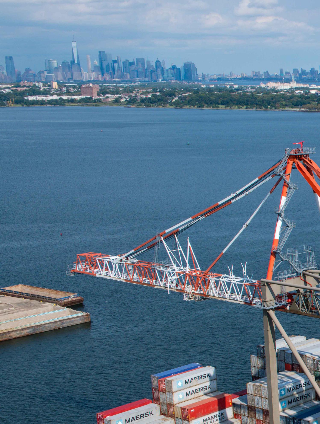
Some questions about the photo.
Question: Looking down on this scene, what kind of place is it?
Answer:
port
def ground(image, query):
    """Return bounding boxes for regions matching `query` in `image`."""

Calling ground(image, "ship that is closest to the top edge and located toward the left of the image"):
[0,285,85,307]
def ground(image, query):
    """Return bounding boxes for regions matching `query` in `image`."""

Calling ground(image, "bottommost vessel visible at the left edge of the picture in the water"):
[0,307,93,341]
